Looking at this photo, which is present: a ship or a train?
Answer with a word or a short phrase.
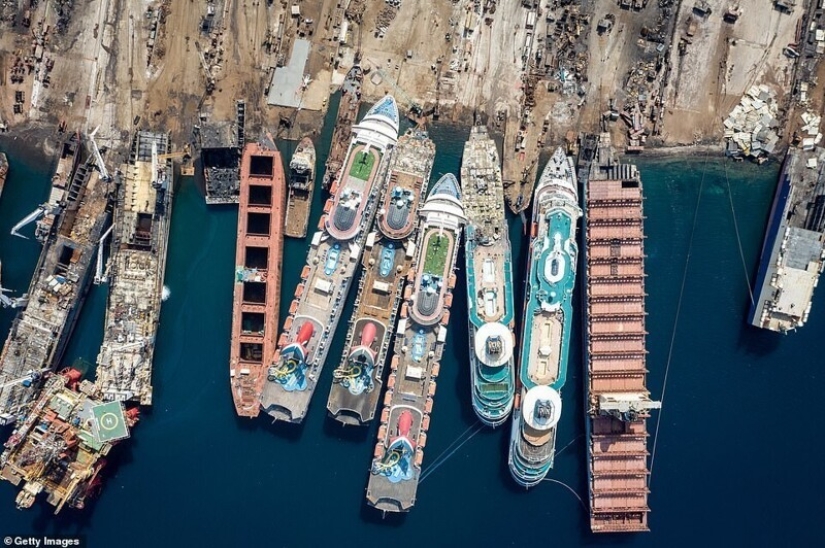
ship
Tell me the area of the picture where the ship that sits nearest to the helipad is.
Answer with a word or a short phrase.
left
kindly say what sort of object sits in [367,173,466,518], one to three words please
ship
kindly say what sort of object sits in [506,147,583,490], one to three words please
ship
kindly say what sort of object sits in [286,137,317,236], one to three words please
vessel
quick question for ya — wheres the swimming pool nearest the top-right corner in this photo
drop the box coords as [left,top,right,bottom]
[545,249,567,283]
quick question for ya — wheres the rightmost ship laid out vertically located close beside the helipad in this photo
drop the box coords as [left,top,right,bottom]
[93,131,173,405]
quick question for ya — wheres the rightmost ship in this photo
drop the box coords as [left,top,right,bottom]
[748,147,825,332]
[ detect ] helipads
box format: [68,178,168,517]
[90,398,137,445]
